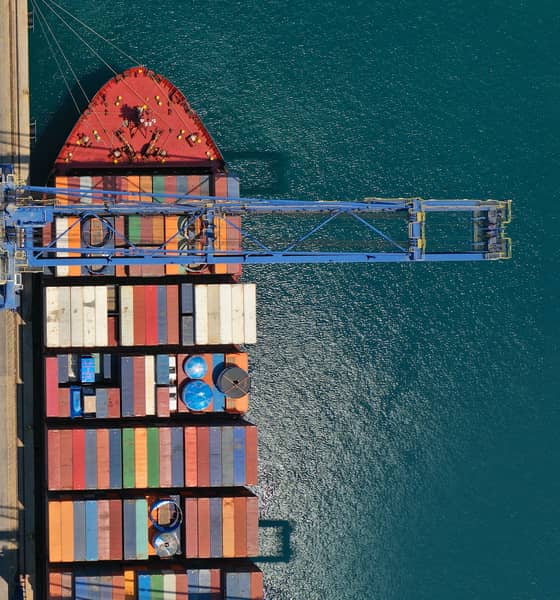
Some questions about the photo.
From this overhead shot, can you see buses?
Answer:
No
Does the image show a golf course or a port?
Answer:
port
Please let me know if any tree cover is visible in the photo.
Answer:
No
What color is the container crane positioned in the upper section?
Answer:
blue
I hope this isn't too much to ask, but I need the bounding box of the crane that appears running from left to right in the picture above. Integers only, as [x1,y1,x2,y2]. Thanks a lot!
[0,158,511,320]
